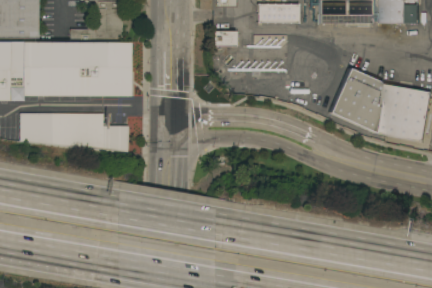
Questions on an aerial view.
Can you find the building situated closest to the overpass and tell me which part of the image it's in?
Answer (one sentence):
The building situated closest to the overpass appears toward the left of the photo.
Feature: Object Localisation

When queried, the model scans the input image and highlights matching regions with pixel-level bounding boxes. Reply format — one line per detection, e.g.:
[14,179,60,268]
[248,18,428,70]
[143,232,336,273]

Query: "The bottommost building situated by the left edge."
[20,113,128,152]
